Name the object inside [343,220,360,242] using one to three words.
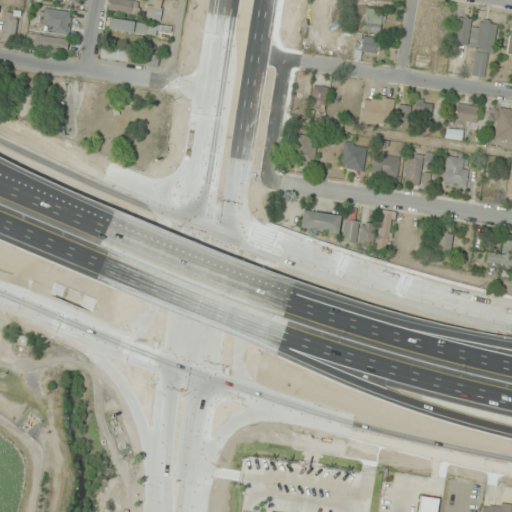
house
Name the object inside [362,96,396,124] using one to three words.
house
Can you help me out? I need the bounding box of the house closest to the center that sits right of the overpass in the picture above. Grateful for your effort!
[303,211,342,232]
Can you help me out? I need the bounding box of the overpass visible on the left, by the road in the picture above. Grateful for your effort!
[97,208,294,354]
